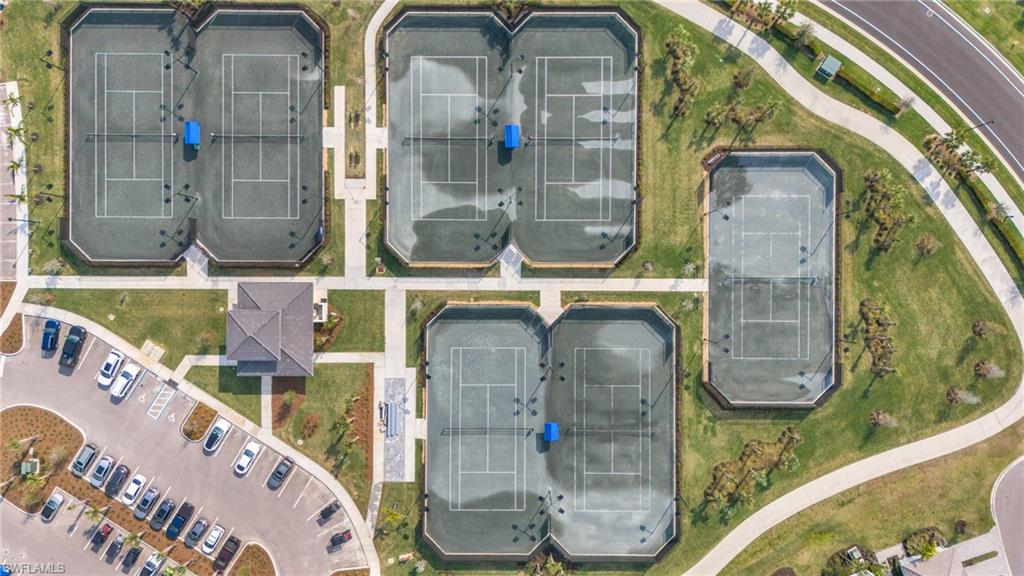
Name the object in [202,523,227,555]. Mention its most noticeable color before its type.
white car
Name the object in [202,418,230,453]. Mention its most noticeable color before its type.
white car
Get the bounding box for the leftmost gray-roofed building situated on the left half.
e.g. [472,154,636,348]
[226,282,314,377]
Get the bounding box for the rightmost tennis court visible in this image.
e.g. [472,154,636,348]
[709,153,836,404]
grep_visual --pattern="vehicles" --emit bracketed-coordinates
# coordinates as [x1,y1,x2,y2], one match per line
[89,524,112,547]
[202,523,227,555]
[39,490,66,524]
[58,325,86,369]
[105,465,131,498]
[42,319,61,352]
[140,551,167,576]
[202,418,230,453]
[91,456,116,487]
[99,350,125,388]
[120,547,143,571]
[134,486,162,521]
[122,473,147,506]
[103,536,125,559]
[150,497,177,531]
[268,457,294,491]
[186,517,211,549]
[166,500,197,541]
[318,501,340,521]
[213,534,244,573]
[110,362,140,400]
[235,441,259,475]
[72,445,98,477]
[328,528,351,547]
